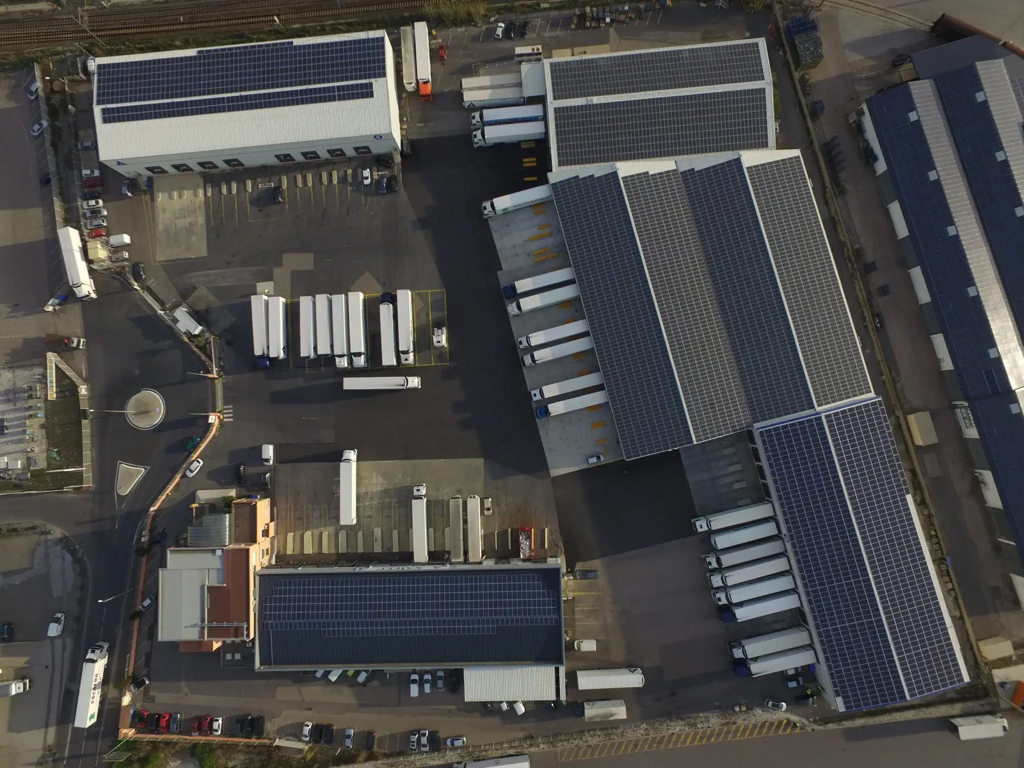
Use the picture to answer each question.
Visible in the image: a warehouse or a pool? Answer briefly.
warehouse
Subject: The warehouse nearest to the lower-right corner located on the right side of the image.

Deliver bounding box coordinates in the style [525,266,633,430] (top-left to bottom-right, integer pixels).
[744,395,971,713]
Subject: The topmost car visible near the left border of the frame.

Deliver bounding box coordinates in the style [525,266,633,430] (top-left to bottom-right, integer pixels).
[26,81,41,98]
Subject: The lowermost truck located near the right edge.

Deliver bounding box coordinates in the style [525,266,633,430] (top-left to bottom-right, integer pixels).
[949,716,1012,740]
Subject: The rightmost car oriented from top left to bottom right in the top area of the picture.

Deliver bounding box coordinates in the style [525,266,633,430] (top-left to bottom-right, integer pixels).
[375,155,395,171]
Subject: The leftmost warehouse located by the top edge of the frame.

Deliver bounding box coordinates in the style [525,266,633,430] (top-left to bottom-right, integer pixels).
[93,29,400,175]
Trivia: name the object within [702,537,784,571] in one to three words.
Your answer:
truck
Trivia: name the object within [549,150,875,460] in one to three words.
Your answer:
warehouse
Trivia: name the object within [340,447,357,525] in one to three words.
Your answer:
vehicle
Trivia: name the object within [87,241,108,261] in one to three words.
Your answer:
building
